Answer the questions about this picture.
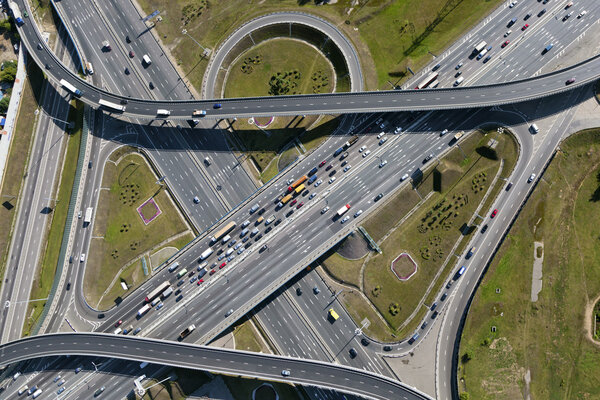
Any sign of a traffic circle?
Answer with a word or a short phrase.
No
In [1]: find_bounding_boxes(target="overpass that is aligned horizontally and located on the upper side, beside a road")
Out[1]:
[8,0,600,122]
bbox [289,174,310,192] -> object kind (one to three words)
vehicle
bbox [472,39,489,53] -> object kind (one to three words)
vehicle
